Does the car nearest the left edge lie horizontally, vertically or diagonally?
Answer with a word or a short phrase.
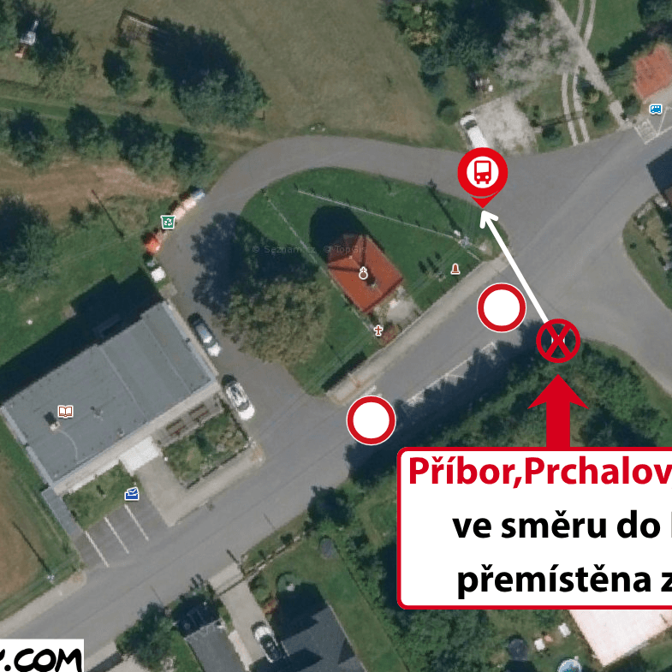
diagonally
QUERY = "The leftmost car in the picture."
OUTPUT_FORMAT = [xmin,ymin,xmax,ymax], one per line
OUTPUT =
[185,312,224,359]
